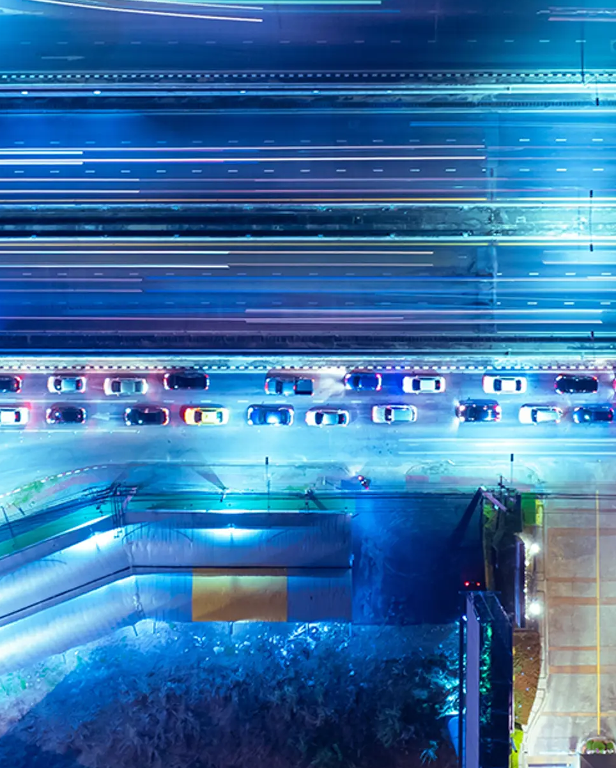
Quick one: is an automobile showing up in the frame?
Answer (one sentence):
Yes, an automobile can be made out from above.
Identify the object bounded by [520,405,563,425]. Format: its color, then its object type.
white car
